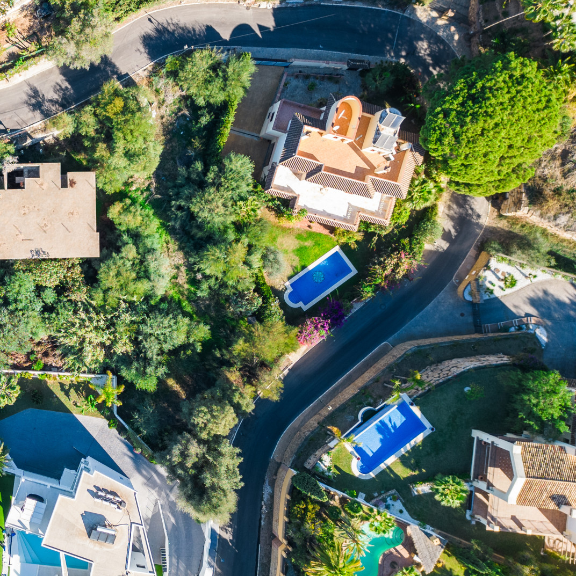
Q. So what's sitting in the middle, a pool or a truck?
pool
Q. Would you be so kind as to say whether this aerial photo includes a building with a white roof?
Yes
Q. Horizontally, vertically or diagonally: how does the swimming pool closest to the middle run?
diagonally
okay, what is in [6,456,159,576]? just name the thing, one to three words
house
